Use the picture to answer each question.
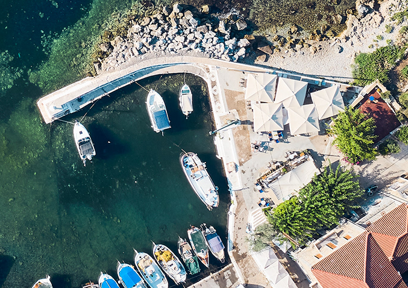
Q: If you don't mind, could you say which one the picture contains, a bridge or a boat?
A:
boat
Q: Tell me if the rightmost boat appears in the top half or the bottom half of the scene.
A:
bottom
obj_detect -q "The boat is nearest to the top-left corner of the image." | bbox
[58,113,94,163]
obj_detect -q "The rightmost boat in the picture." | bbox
[205,225,227,267]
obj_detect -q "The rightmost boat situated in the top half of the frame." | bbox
[177,86,193,117]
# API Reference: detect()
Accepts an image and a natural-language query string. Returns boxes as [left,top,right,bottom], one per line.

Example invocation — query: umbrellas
[249,242,280,269]
[286,103,319,136]
[272,73,307,106]
[268,271,296,288]
[250,102,281,132]
[258,260,286,286]
[306,82,344,120]
[242,71,275,103]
